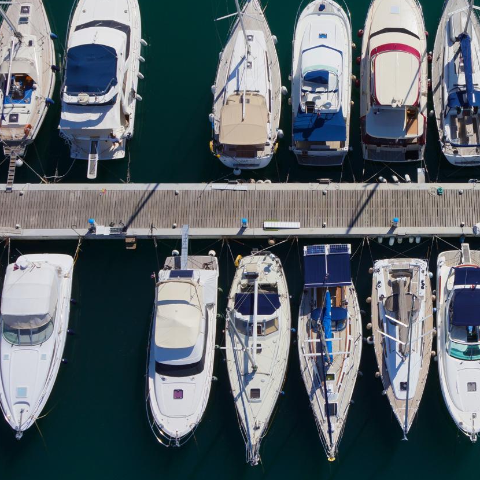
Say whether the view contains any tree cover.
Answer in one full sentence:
No, the scene doesn't show any tree cover.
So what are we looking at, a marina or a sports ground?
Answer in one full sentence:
The picture captures a marina.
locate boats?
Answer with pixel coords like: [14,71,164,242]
[434,244,480,442]
[146,225,220,447]
[297,245,361,463]
[60,0,142,178]
[212,0,281,167]
[430,0,480,167]
[0,248,78,440]
[290,0,354,166]
[360,0,428,163]
[0,0,53,191]
[370,254,435,442]
[220,248,290,465]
